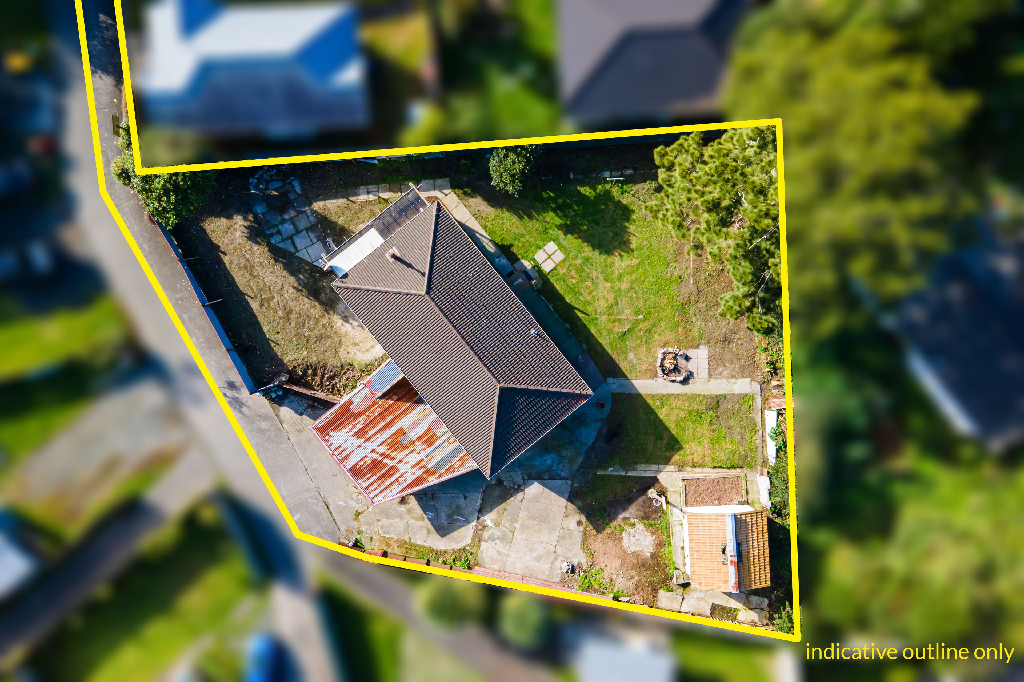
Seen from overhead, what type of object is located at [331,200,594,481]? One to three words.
house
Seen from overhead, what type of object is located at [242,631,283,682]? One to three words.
car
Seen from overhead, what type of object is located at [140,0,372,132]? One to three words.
house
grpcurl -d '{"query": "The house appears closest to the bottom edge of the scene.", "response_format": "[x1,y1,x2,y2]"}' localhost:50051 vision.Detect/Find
[570,623,671,682]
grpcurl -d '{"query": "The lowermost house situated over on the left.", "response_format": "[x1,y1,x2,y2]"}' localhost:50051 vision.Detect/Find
[0,518,54,608]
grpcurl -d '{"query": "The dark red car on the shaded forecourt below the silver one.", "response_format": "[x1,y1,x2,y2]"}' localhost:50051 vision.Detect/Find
[1,128,87,172]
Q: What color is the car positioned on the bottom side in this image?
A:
blue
